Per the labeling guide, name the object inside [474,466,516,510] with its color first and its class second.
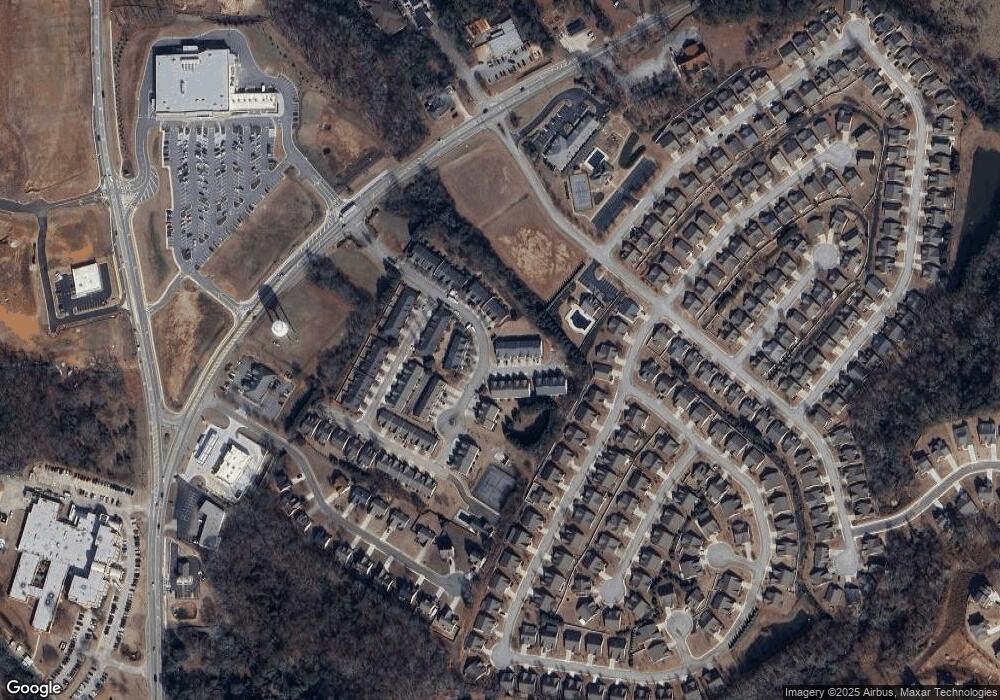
gray tennis court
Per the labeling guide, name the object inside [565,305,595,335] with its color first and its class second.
white swimming pool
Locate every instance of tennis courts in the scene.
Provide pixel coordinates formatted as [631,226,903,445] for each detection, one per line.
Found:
[568,173,593,210]
[474,466,516,510]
